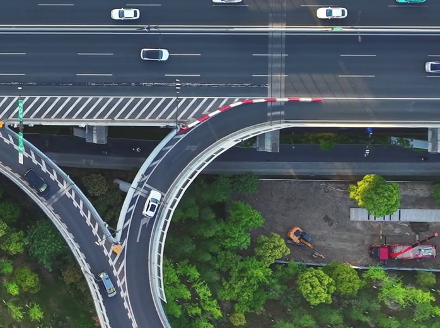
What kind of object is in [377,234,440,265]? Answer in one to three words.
truck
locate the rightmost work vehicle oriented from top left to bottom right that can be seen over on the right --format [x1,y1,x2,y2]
[286,229,325,263]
